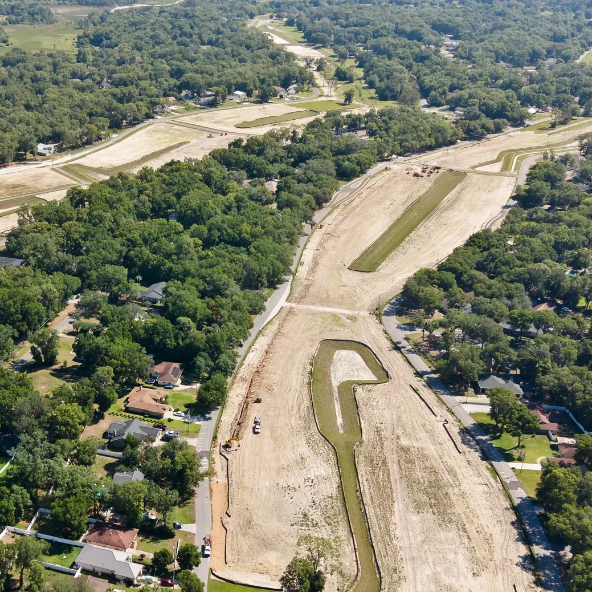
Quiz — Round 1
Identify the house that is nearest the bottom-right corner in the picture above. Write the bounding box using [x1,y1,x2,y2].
[534,436,573,470]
